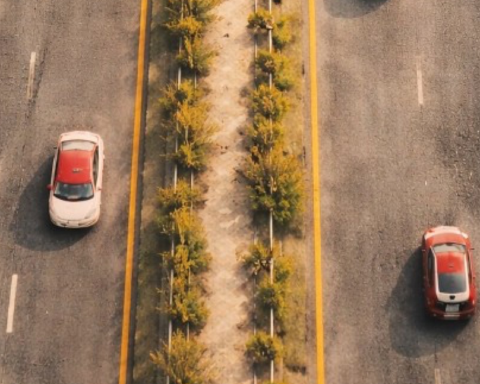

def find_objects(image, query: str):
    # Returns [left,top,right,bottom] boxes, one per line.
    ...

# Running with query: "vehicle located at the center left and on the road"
[45,132,105,228]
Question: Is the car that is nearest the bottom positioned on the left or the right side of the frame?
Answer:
right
